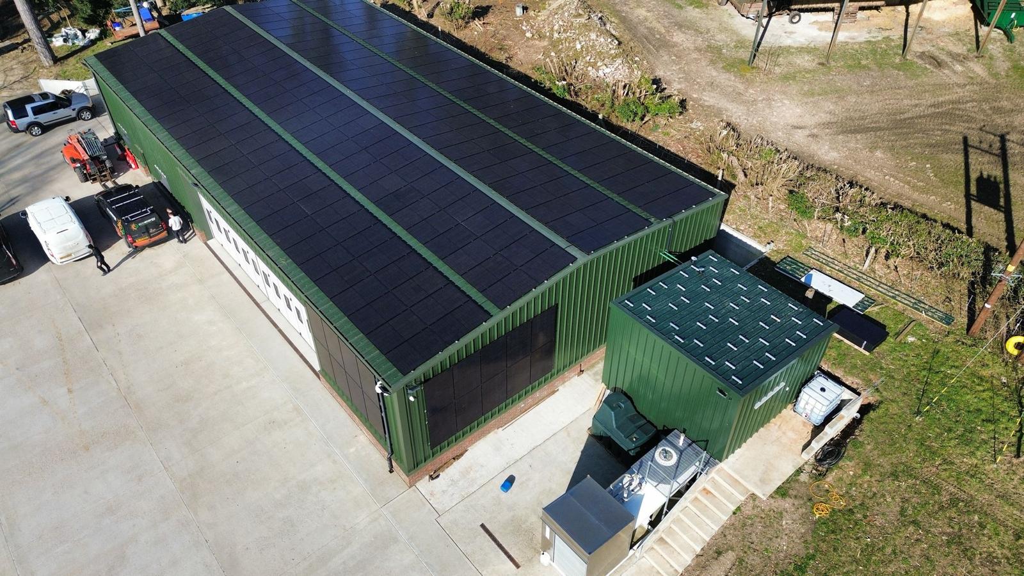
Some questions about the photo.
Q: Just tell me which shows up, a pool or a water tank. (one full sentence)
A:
There is a water tank in the scene.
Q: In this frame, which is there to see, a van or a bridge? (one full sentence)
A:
The one in the frame is a van.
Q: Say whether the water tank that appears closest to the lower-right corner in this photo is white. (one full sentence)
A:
Yes, white is the color of the water tank that appears closest to the lower-right corner.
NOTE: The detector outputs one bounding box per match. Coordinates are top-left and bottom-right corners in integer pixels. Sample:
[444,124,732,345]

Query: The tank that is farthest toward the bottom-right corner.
[795,376,845,426]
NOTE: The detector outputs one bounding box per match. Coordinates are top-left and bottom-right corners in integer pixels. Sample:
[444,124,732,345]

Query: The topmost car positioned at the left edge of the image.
[0,89,99,136]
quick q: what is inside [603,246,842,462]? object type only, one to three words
shed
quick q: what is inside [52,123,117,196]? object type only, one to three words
work vehicle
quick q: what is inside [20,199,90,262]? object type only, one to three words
van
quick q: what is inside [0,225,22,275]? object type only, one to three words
car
